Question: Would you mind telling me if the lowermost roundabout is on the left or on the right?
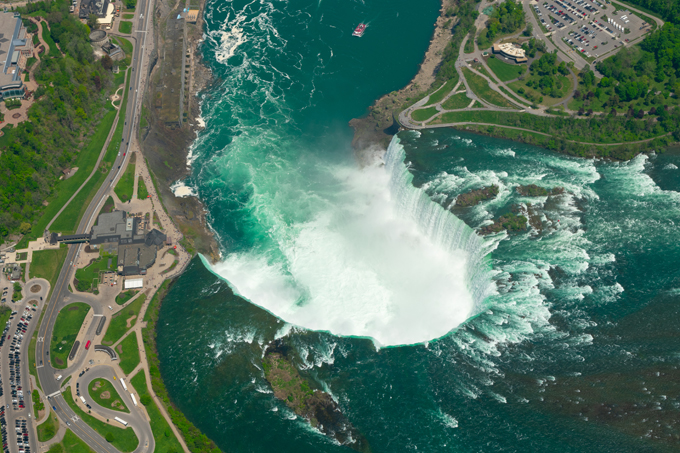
left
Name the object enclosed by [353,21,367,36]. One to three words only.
boat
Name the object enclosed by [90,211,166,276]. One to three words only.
building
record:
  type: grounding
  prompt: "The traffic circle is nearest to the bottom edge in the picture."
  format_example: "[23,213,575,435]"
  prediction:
[78,365,154,453]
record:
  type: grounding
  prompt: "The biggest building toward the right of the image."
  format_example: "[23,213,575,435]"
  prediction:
[493,43,528,64]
